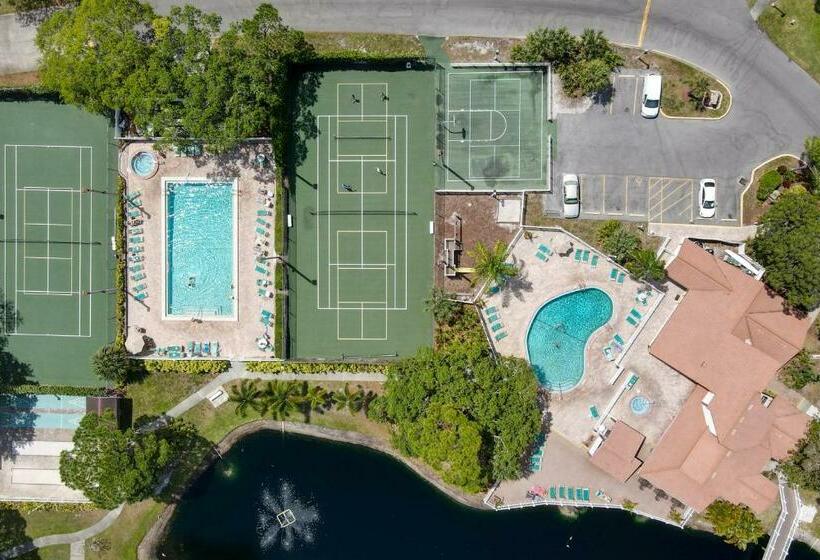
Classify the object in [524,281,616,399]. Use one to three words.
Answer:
swimming pool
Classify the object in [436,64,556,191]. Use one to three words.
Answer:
basketball court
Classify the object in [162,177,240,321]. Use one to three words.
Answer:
swimming pool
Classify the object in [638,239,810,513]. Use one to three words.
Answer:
building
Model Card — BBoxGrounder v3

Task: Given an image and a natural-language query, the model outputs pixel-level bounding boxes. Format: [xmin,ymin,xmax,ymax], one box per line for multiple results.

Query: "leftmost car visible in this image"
[562,175,581,218]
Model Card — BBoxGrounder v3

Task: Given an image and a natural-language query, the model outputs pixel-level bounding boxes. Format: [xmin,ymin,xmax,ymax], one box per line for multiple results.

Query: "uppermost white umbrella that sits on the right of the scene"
[553,238,571,256]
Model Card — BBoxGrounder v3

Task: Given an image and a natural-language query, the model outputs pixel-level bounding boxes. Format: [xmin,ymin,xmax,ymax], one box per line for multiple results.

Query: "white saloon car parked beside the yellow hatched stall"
[697,179,718,218]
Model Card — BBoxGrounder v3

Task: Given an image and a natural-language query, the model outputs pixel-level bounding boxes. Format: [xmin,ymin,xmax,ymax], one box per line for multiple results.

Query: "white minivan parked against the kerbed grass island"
[641,75,663,119]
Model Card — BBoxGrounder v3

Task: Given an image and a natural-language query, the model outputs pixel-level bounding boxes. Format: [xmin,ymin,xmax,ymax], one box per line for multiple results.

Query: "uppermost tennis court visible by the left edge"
[0,101,114,384]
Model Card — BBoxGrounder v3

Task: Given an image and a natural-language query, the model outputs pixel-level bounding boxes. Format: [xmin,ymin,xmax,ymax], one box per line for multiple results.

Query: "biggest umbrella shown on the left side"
[125,333,146,353]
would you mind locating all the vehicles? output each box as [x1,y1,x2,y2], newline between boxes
[562,175,581,218]
[697,179,718,218]
[641,75,663,119]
